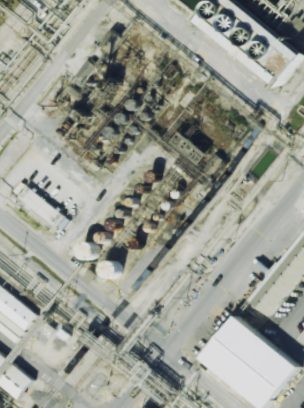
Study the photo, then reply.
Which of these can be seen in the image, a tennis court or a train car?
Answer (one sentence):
Of the two, only a train car appears.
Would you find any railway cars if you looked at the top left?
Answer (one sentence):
No, the scene shows no railway car at the top left.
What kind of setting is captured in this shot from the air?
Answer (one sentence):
The picture captures an industrial area.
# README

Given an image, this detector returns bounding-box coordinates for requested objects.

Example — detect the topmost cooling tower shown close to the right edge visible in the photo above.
[192,0,304,90]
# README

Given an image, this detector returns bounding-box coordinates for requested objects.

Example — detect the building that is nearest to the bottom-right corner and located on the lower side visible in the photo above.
[196,315,302,408]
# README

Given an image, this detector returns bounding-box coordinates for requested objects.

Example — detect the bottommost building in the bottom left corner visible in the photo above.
[0,364,39,400]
